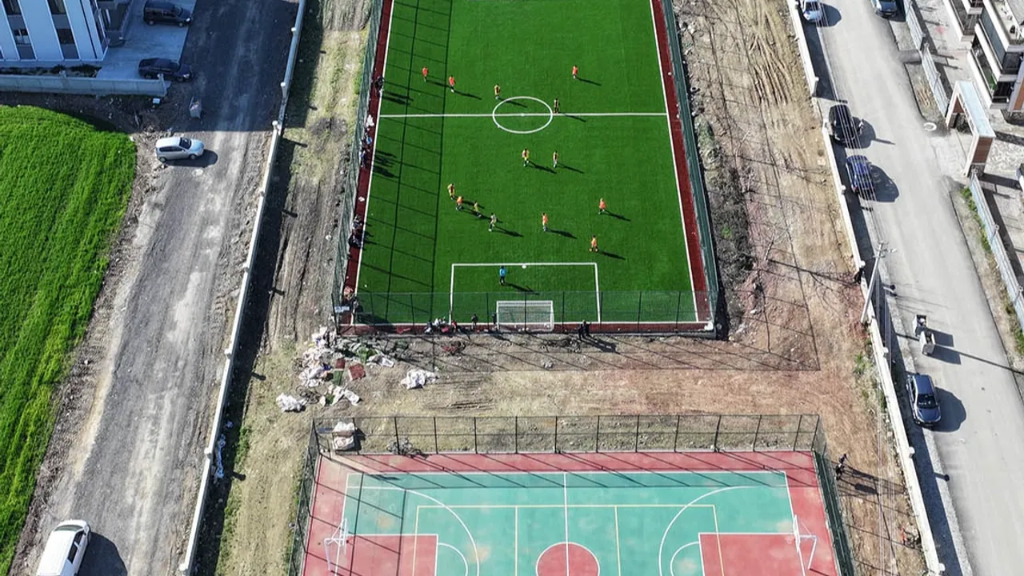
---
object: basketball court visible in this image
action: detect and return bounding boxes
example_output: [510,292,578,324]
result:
[303,450,840,576]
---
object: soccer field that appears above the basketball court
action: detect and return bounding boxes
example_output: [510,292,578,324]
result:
[334,0,716,338]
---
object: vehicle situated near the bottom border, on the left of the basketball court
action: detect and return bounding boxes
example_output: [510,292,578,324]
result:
[33,519,91,576]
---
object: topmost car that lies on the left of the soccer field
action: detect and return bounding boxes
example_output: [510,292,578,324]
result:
[141,0,194,25]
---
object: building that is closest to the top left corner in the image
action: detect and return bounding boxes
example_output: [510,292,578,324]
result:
[0,0,139,65]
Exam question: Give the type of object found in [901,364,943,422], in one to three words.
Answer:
car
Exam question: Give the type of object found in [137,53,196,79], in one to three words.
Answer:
car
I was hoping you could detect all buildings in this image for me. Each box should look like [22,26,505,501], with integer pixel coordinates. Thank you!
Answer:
[938,0,1024,118]
[0,0,139,65]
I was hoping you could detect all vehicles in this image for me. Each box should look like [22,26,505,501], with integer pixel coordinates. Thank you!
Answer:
[901,364,943,422]
[154,132,205,159]
[141,0,194,25]
[797,0,822,20]
[847,160,879,196]
[874,0,899,16]
[137,53,196,79]
[826,98,857,139]
[33,519,91,576]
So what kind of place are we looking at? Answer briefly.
sports ground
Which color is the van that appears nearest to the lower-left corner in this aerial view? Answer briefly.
white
